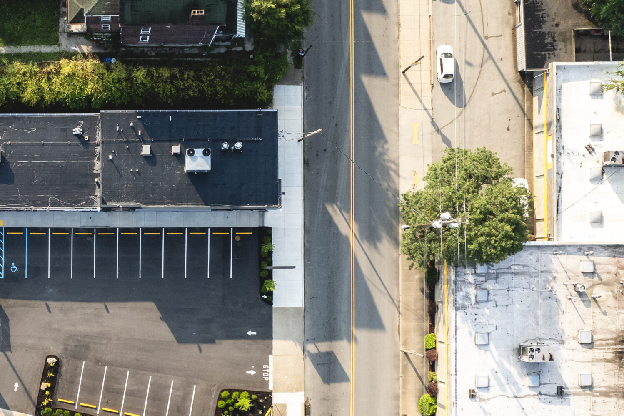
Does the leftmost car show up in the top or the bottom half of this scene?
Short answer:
top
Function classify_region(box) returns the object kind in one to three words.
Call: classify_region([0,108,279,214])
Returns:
building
